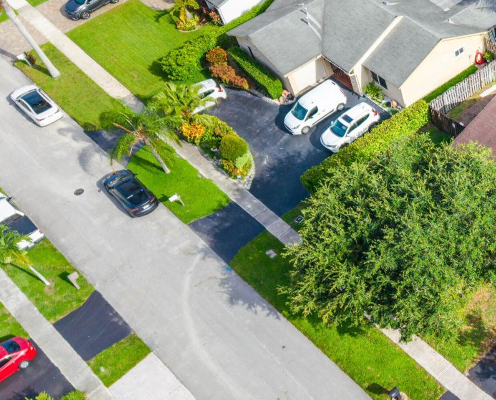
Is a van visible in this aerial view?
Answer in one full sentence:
Yes, there's a van here.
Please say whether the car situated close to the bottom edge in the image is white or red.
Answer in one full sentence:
The car situated close to the bottom edge is red.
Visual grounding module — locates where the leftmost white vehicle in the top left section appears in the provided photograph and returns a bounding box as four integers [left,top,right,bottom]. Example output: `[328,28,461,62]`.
[6,80,58,120]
